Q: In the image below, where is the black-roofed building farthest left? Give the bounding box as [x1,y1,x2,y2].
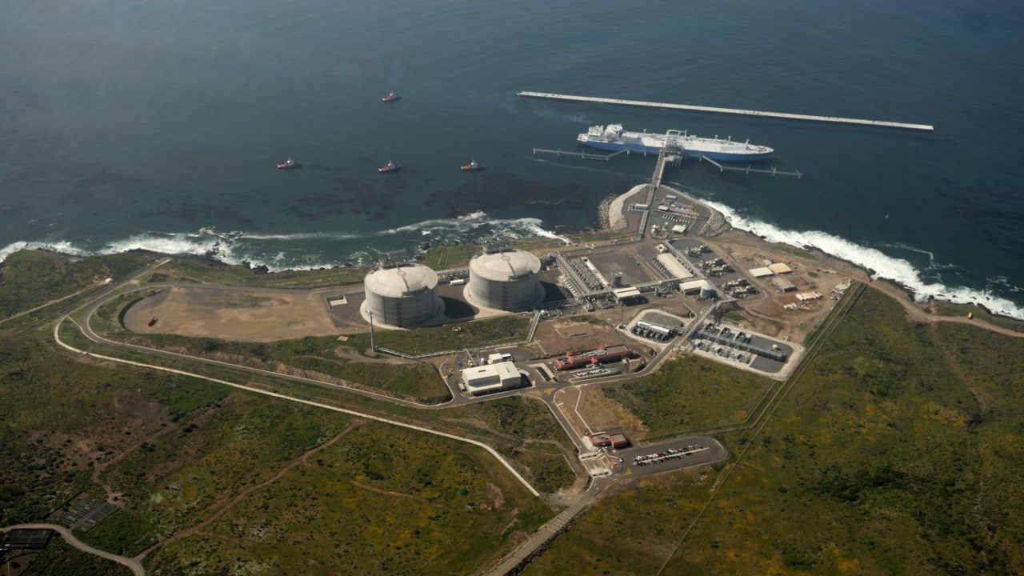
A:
[1,527,53,547]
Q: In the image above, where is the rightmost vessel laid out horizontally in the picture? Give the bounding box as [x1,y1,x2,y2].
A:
[576,122,775,163]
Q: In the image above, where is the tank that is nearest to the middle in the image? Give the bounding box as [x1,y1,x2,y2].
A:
[465,235,546,312]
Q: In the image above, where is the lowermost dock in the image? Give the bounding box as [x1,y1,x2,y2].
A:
[650,148,670,183]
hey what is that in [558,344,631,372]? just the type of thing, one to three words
building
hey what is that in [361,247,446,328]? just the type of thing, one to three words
storage tank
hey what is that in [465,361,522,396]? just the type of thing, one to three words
building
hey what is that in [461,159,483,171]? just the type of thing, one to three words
boat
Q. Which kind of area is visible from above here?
port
